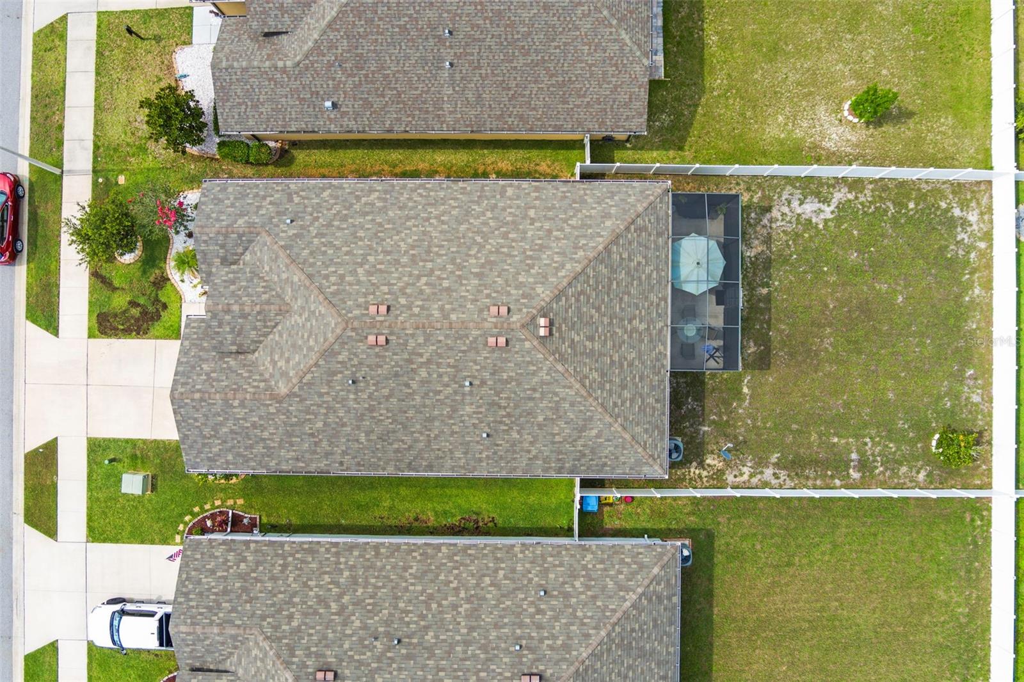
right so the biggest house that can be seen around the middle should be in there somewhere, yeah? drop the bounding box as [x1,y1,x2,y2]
[171,180,669,475]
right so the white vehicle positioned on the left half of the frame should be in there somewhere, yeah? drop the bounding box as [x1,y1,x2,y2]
[87,595,176,656]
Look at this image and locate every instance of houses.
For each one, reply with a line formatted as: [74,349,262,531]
[171,180,669,475]
[188,0,652,140]
[171,510,681,682]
